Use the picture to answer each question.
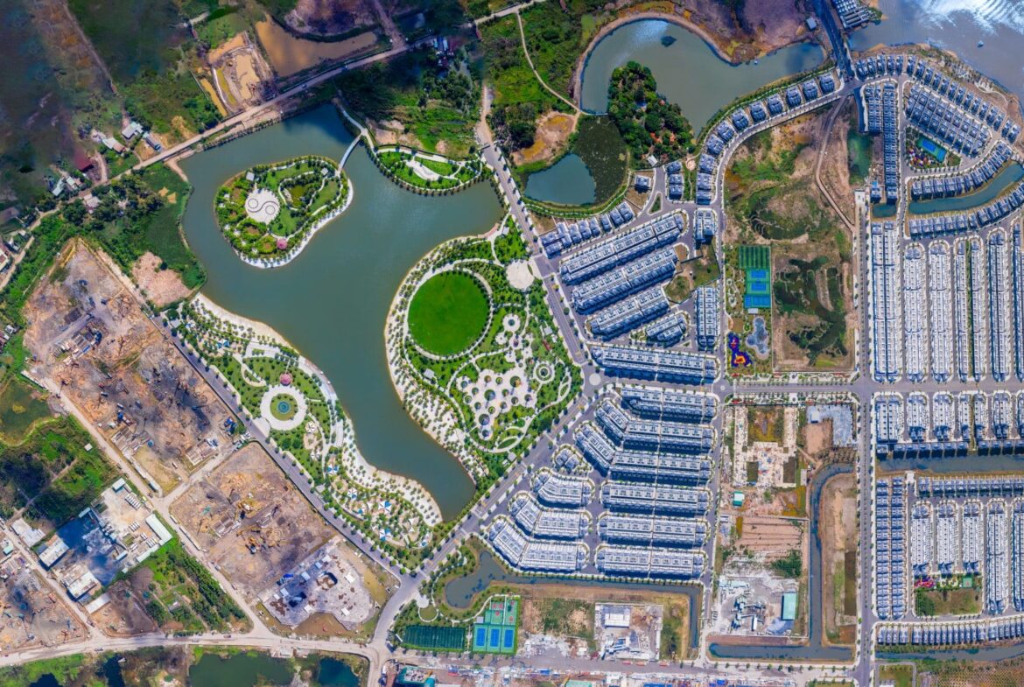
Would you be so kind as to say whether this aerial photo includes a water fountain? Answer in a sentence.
Yes, the frame does contain a water fountain.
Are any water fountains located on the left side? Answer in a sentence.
Yes, a water fountain is visible on the left side.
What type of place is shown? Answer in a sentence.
The area seen from above is a residential area.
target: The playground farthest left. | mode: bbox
[728,332,751,367]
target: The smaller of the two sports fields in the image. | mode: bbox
[740,247,771,268]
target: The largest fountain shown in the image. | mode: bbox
[270,395,297,421]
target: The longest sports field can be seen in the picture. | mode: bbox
[402,625,465,649]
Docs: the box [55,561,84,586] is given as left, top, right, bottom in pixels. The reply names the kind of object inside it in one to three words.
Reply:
building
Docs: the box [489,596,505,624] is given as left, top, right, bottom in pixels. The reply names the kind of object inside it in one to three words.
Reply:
basketball court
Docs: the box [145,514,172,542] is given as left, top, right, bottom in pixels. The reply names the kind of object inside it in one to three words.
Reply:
building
